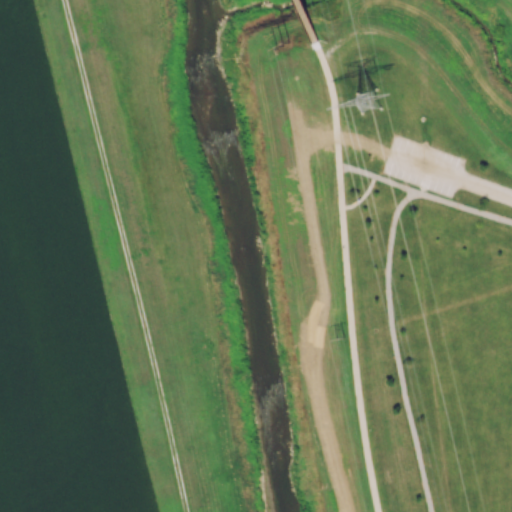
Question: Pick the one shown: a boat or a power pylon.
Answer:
power pylon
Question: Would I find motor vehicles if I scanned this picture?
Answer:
No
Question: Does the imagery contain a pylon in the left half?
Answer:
No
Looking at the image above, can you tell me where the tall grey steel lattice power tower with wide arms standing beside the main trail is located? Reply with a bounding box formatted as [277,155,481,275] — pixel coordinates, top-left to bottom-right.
[325,88,390,114]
